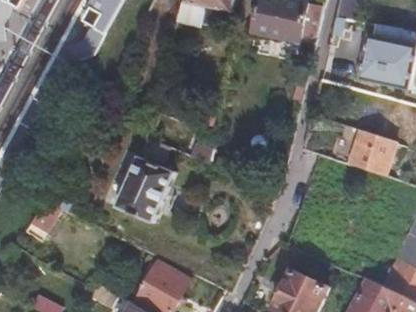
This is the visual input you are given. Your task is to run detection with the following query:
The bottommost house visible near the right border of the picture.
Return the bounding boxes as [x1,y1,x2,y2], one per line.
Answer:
[347,278,416,312]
